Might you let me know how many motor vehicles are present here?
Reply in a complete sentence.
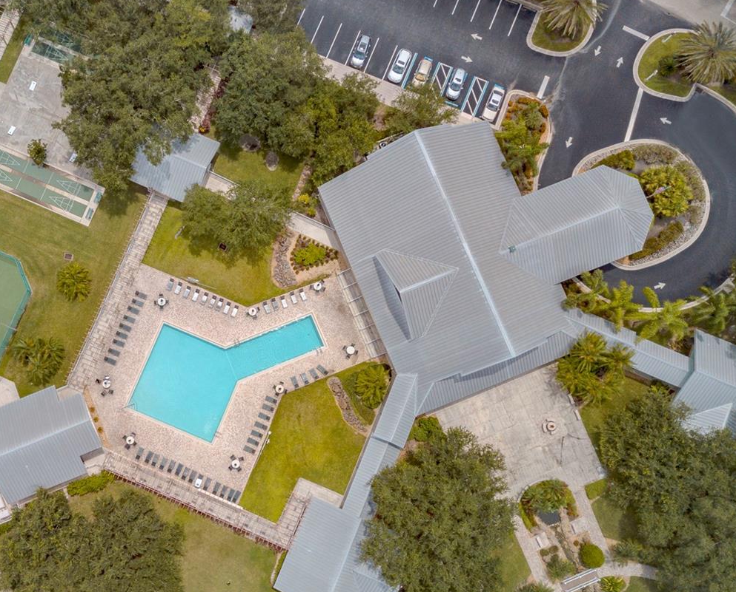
The photo contains 5 motor vehicles.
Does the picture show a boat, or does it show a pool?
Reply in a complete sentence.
Looking from above, you can make out a pool.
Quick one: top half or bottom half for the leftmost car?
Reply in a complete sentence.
The leftmost car sits in the top half of the picture.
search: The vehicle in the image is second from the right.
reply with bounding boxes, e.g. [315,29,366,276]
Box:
[444,67,466,101]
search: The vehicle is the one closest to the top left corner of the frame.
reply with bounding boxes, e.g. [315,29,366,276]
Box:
[351,35,371,68]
